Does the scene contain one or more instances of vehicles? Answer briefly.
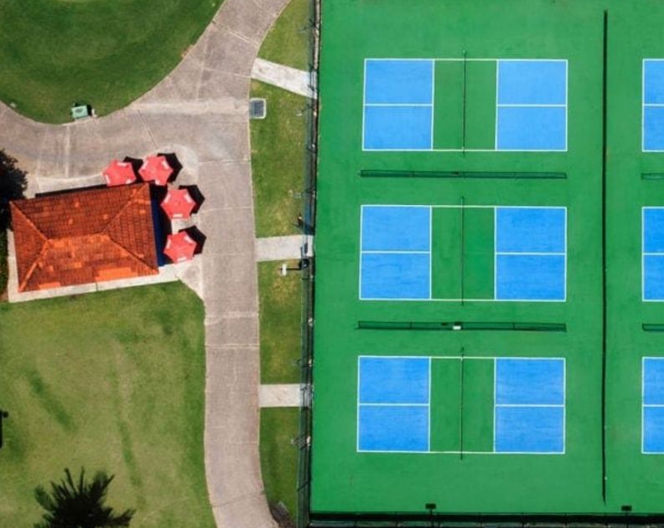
No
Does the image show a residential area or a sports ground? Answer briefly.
sports ground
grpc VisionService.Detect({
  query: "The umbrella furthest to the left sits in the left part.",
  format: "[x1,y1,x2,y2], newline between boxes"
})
[104,156,139,187]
